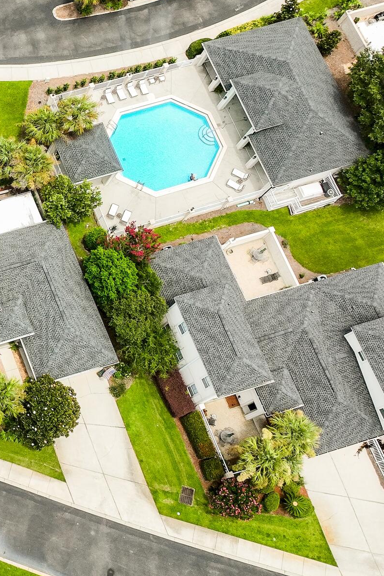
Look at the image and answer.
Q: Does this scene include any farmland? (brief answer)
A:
No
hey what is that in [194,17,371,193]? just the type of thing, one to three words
building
